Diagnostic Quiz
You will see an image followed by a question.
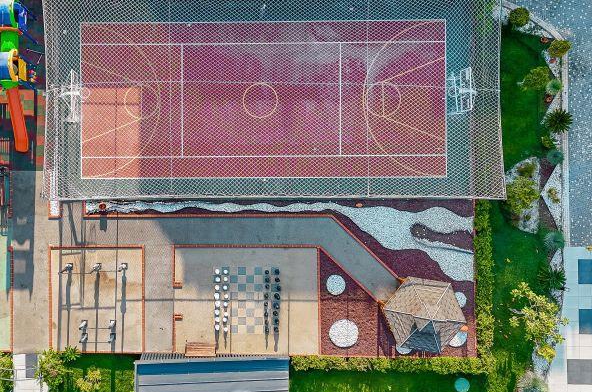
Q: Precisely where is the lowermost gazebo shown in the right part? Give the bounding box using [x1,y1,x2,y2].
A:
[378,277,466,354]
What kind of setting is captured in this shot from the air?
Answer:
sports ground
